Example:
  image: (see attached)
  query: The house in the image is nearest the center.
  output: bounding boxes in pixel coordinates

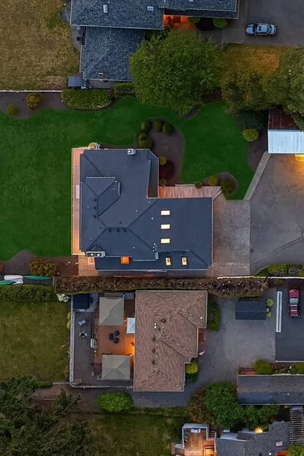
[80,149,214,270]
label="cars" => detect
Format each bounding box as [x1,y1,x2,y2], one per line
[286,289,301,317]
[245,22,277,37]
